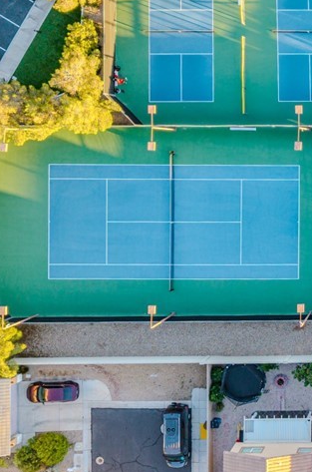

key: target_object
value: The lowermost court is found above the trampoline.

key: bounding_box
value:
[0,127,312,315]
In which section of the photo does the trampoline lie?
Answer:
bottom right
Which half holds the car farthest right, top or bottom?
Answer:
bottom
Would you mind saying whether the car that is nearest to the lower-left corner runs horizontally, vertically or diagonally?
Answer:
horizontally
